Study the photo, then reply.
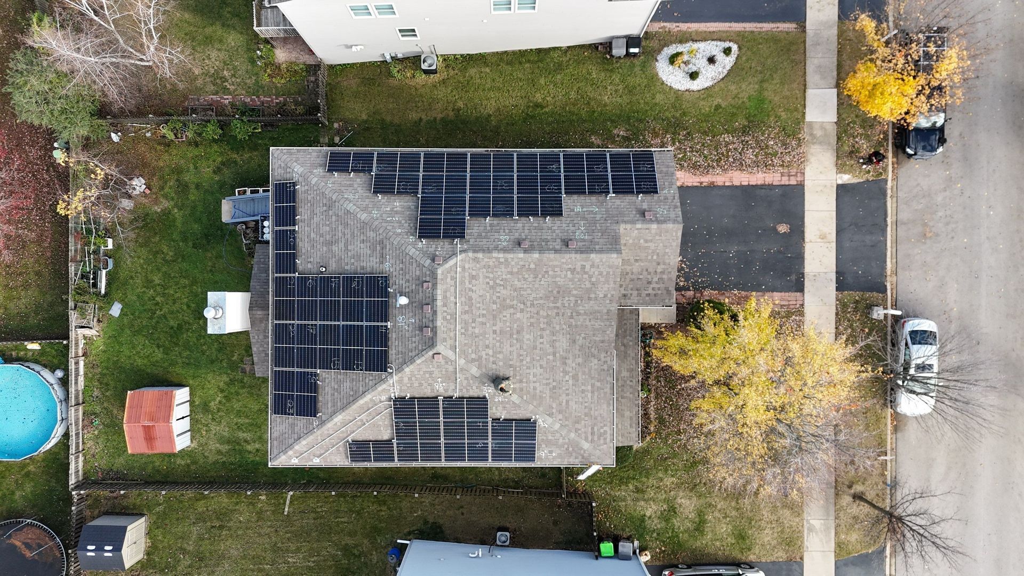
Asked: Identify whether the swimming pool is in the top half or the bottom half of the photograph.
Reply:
bottom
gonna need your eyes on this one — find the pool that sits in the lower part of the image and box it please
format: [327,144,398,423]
[0,353,81,461]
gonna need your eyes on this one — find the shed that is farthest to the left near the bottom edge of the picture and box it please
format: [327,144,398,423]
[77,516,146,572]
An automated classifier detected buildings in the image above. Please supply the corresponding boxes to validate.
[261,0,662,65]
[77,516,146,572]
[123,388,190,454]
[207,144,684,470]
[394,539,651,576]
